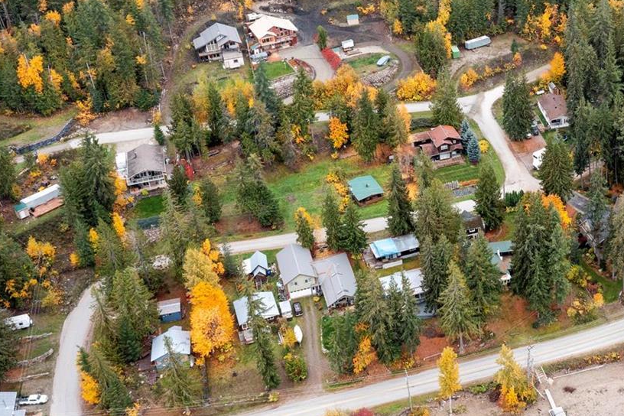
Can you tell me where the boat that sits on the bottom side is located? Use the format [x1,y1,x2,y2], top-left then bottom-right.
[289,318,302,339]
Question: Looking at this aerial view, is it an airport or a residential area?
residential area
